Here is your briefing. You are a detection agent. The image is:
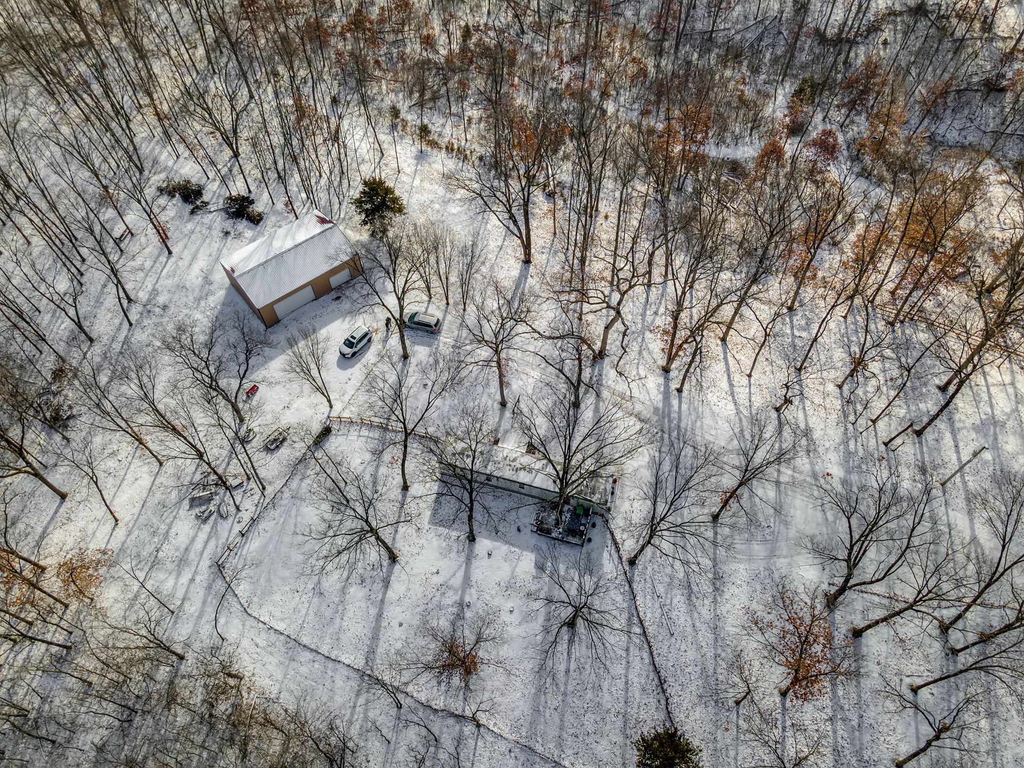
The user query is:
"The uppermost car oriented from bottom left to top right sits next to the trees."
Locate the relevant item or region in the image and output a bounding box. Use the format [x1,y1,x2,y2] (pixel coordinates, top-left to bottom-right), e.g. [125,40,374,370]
[339,325,373,357]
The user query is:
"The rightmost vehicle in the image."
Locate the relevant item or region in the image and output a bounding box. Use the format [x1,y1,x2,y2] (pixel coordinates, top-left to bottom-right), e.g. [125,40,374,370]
[401,311,440,333]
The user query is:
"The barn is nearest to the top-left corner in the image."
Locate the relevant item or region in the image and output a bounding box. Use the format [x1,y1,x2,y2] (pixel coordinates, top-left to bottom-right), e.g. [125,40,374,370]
[213,213,364,328]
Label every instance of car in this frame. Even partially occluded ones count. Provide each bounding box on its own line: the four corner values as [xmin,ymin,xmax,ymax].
[339,325,373,357]
[401,311,440,333]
